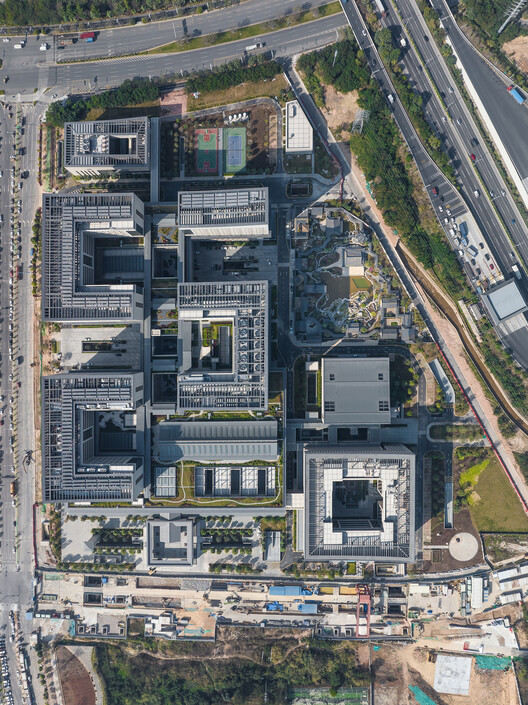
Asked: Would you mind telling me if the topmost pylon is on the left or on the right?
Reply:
right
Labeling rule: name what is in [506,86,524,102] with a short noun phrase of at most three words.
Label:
vehicle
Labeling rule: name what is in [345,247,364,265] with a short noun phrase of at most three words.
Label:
building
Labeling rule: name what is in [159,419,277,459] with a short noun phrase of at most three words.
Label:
building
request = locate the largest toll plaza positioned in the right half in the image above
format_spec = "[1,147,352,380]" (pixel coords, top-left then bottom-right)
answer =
[481,280,527,326]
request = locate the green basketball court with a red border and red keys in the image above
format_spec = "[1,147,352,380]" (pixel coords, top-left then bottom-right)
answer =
[196,128,218,172]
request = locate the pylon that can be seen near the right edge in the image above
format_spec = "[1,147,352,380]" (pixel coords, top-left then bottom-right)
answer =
[495,0,524,31]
